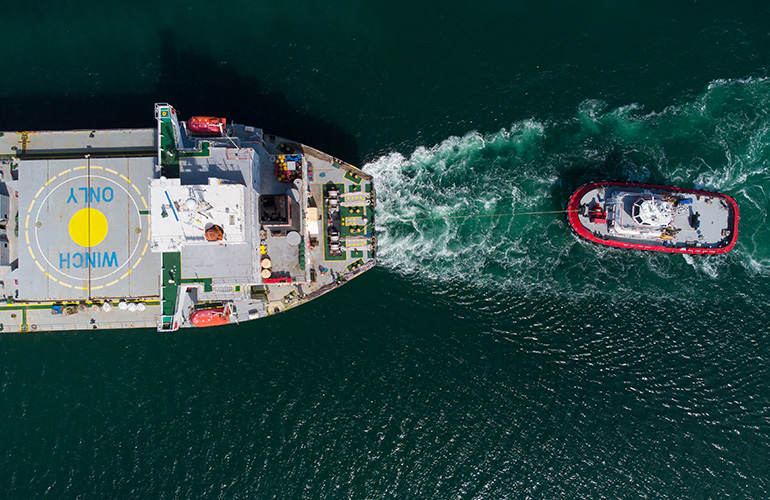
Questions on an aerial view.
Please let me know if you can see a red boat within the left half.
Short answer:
Yes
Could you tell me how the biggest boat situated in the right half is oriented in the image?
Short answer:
horizontally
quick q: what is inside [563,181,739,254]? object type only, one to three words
boat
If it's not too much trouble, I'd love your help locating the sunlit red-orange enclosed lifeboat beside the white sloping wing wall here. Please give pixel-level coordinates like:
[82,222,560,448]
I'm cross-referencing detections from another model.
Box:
[192,307,235,328]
